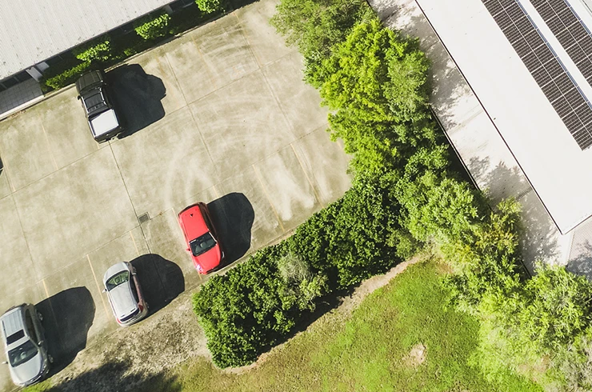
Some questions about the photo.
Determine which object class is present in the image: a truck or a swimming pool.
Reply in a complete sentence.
I can see a truck in this picture.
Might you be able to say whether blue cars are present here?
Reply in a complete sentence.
No, there's no blue car here.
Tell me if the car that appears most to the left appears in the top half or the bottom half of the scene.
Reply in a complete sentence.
The car that appears most to the left sits in the bottom half of the picture.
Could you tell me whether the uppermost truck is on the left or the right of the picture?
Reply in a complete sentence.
It is on the left.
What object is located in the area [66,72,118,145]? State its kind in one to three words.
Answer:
truck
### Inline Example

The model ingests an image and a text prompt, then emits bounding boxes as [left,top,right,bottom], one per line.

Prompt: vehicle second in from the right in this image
[97,257,150,334]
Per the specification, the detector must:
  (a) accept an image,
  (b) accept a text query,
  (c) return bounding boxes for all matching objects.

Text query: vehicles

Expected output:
[97,257,150,334]
[169,201,225,276]
[66,72,118,145]
[0,300,50,390]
